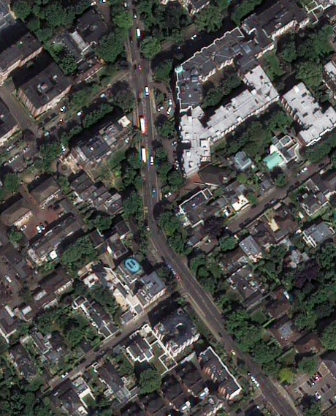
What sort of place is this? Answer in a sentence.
The picture captures a residential area.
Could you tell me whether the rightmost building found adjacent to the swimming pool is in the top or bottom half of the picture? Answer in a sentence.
The rightmost building found adjacent to the swimming pool is in the bottom half of the image.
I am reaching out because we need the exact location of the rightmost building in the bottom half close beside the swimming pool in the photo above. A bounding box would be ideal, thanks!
[136,271,166,310]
